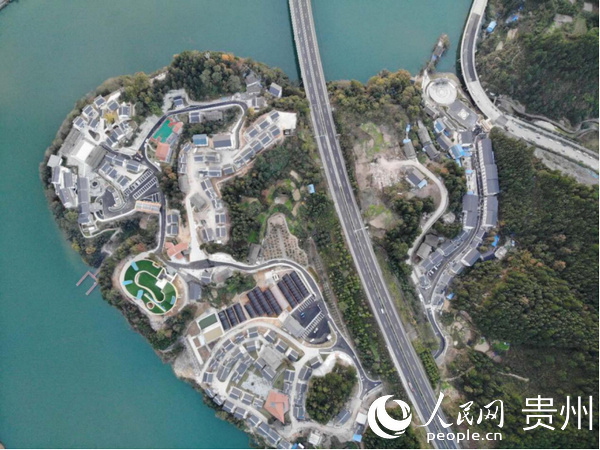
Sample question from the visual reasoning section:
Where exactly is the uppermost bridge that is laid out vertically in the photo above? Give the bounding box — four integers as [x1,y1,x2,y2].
[289,0,327,94]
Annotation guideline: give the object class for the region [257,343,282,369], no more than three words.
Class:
building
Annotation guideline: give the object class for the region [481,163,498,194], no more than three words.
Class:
house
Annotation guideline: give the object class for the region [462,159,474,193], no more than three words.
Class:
building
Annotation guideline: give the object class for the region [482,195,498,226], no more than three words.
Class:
house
